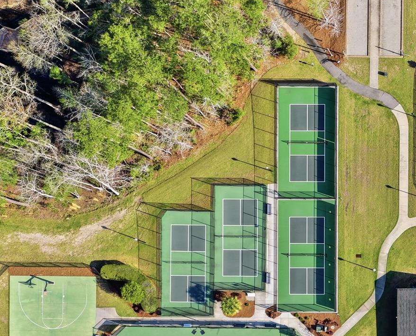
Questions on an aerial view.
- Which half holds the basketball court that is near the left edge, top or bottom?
bottom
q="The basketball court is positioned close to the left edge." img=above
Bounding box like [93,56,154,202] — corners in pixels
[9,276,96,336]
